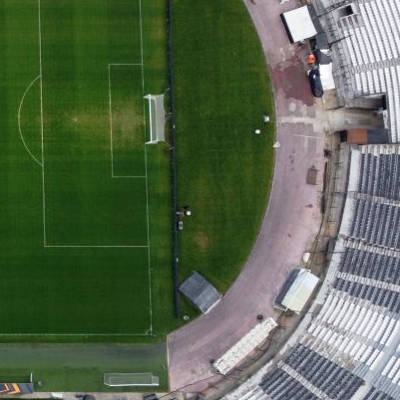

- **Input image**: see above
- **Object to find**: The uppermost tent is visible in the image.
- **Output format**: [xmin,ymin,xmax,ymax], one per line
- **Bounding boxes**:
[273,6,316,45]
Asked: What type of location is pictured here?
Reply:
sports ground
